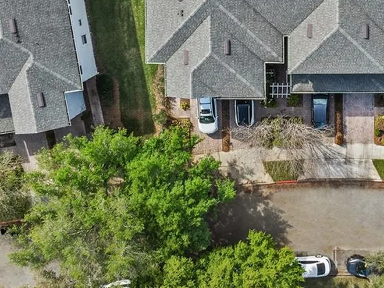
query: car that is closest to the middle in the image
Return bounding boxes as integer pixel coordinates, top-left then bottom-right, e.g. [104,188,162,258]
[195,100,223,134]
